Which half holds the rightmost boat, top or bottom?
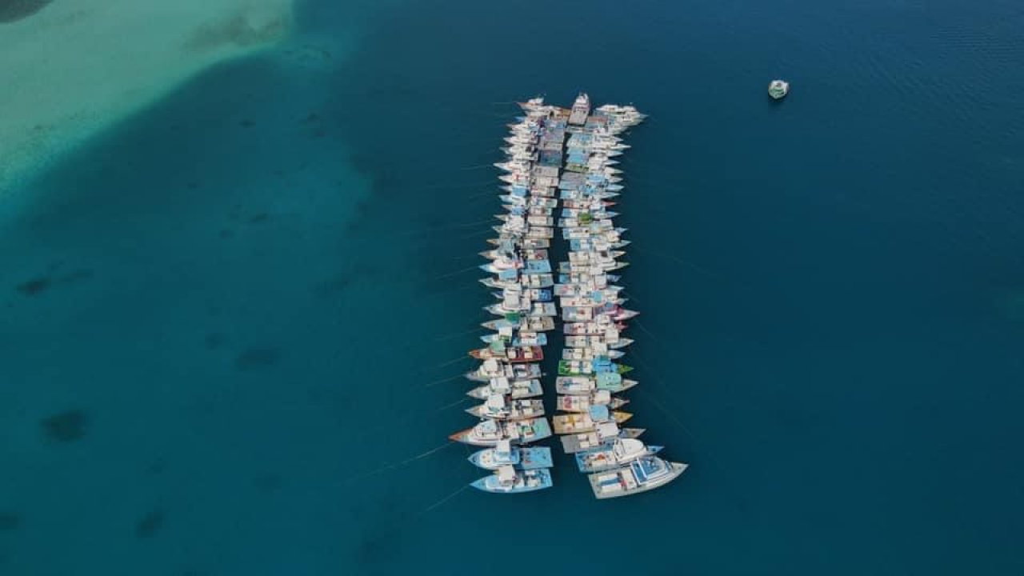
top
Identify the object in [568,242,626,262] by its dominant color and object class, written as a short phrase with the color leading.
white boat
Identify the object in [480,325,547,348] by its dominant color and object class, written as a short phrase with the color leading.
white boat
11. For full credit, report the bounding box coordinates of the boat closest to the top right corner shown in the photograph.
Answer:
[768,76,788,103]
